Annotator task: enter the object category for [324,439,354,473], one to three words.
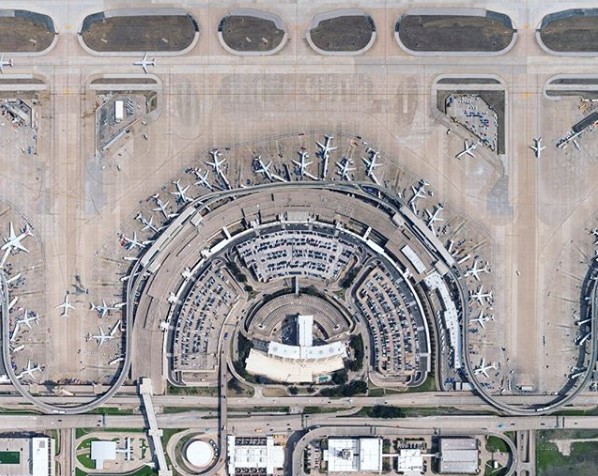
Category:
building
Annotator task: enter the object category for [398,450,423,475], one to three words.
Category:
building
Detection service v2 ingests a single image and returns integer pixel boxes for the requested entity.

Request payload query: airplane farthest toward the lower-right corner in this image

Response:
[478,357,498,378]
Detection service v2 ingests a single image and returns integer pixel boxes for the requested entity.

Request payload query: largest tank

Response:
[181,435,219,472]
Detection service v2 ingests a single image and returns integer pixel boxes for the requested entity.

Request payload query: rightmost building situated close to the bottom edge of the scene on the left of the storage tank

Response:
[91,442,121,470]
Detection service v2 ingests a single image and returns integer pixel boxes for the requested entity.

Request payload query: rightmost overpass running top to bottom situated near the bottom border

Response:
[180,345,228,476]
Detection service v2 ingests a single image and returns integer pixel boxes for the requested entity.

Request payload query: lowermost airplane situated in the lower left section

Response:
[19,360,42,380]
